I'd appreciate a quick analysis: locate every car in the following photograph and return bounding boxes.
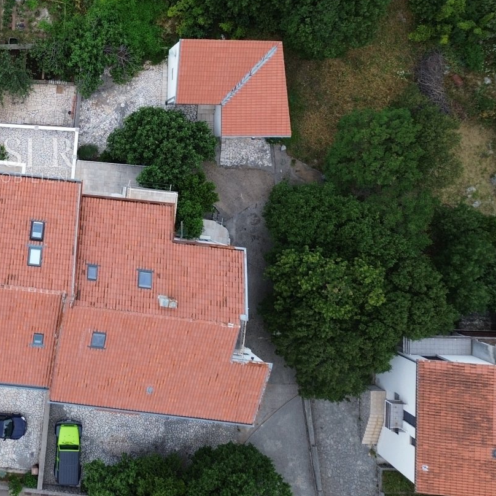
[53,423,84,489]
[0,410,28,441]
